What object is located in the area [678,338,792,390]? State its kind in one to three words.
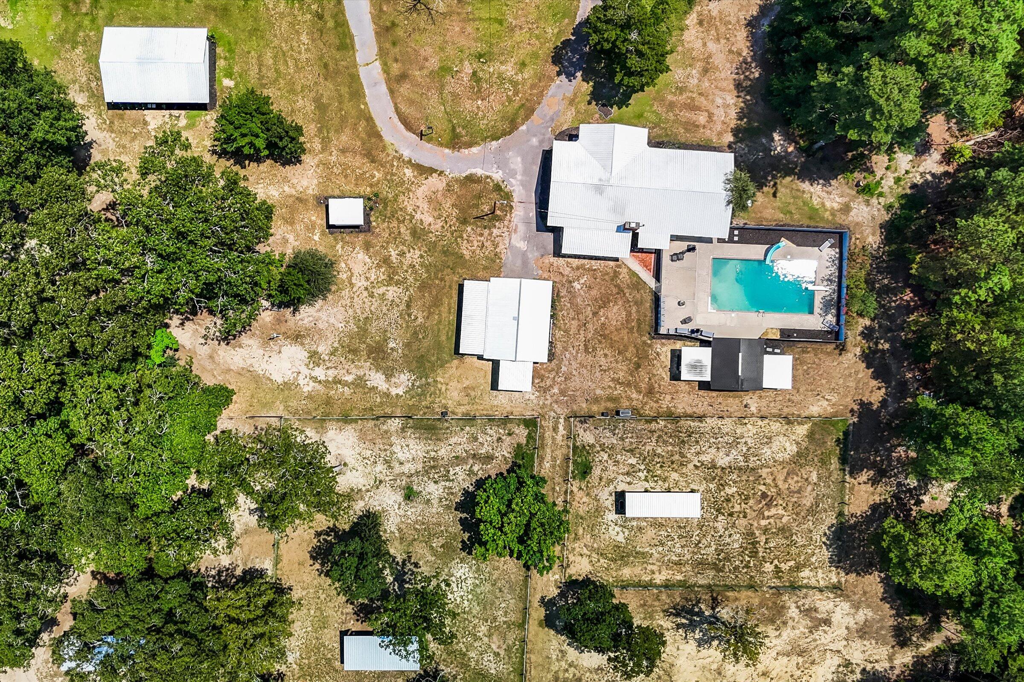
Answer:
building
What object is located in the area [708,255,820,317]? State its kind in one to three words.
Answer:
swimming pool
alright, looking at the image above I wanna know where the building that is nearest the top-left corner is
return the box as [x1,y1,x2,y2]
[99,27,214,106]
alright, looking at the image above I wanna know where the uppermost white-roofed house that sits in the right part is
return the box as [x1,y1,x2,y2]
[547,124,734,258]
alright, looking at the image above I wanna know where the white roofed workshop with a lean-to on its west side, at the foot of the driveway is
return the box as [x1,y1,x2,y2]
[460,277,552,391]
